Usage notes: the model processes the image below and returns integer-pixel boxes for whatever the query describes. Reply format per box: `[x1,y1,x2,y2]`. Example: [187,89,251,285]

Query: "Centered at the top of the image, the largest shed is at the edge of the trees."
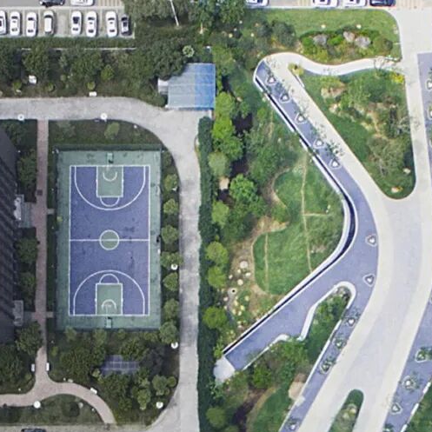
[168,64,215,118]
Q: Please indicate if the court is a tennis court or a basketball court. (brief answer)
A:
basketball court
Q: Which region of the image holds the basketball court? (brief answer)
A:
left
